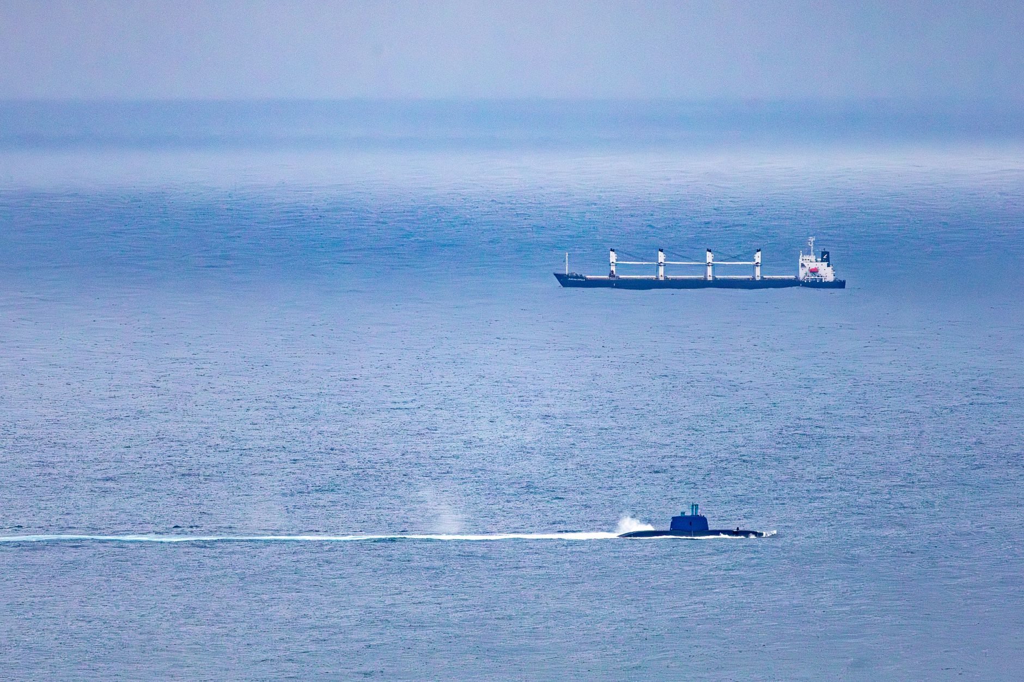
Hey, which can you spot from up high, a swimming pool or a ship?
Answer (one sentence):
Of the two, only a ship appears.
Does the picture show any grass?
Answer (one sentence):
No, grass can't be seen anywhere here.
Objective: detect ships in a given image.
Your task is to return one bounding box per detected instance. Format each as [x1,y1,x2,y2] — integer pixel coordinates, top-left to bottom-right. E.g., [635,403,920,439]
[554,237,846,289]
[620,502,765,537]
